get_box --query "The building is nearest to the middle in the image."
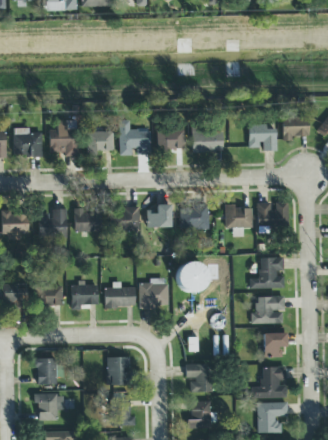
[146,204,174,229]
